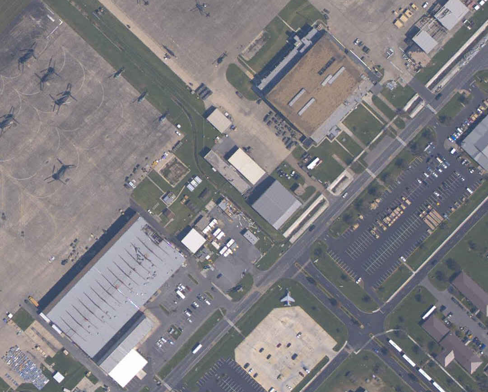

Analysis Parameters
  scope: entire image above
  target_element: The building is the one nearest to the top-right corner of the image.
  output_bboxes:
[435,0,470,30]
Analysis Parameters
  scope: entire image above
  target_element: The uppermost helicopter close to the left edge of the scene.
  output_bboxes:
[13,44,38,72]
